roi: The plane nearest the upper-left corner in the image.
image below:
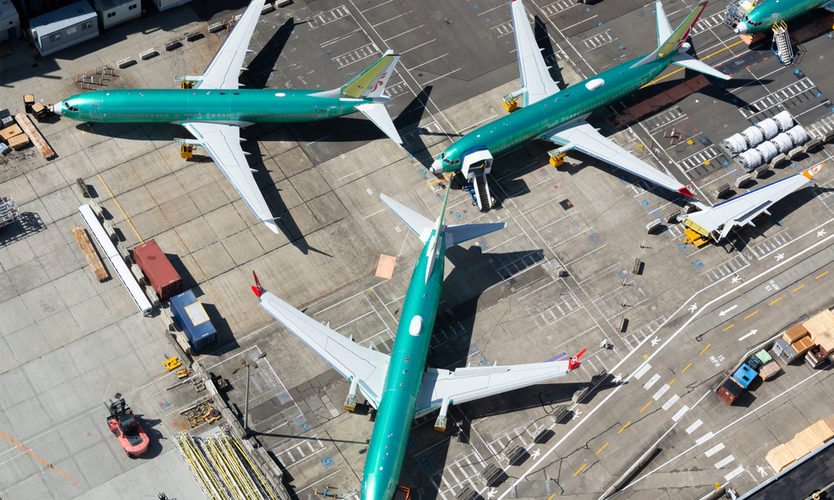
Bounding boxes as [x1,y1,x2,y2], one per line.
[55,0,405,234]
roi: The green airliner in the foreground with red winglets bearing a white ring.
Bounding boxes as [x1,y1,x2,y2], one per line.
[252,174,587,500]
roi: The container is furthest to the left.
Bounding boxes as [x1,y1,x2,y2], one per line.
[134,239,181,301]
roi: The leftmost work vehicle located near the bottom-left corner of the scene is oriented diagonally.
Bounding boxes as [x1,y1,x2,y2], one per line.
[103,398,149,451]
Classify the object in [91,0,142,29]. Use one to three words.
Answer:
trailer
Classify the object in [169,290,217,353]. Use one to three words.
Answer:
shipping container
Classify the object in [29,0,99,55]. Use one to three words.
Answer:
trailer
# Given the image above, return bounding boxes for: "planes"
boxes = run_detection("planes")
[252,174,587,500]
[55,0,405,234]
[430,0,734,197]
[736,0,834,38]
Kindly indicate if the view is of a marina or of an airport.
airport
